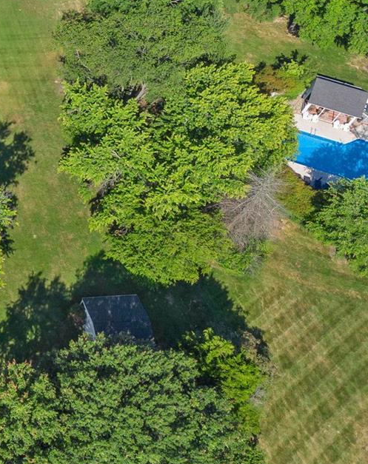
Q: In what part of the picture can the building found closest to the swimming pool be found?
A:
top right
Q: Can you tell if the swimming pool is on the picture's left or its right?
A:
right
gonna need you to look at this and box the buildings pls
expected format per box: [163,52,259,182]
[296,72,368,145]
[73,295,155,347]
